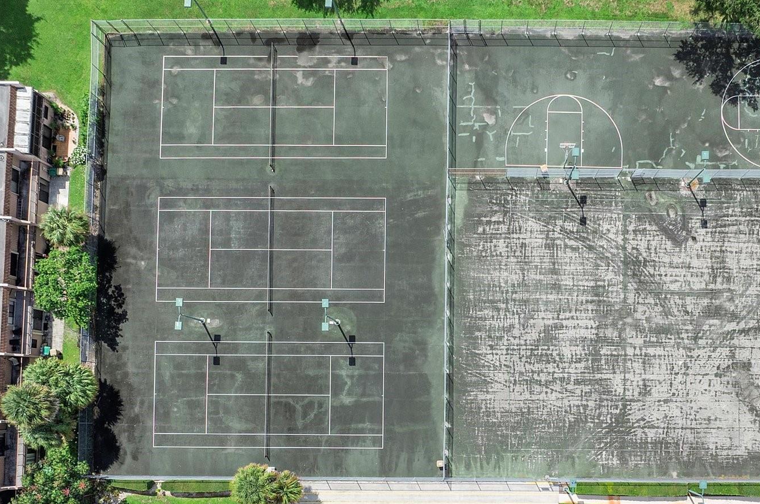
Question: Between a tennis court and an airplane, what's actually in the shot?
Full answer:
Looking from above, you can make out a tennis court.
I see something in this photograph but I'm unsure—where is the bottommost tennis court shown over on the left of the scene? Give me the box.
[95,322,446,477]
